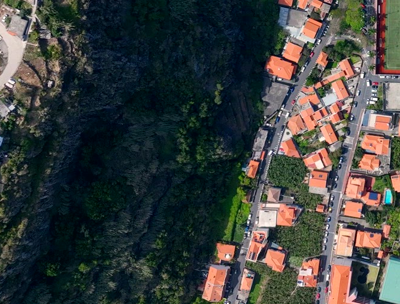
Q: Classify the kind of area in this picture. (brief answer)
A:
residential area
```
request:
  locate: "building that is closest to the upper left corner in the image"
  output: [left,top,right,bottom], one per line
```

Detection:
[7,16,37,39]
